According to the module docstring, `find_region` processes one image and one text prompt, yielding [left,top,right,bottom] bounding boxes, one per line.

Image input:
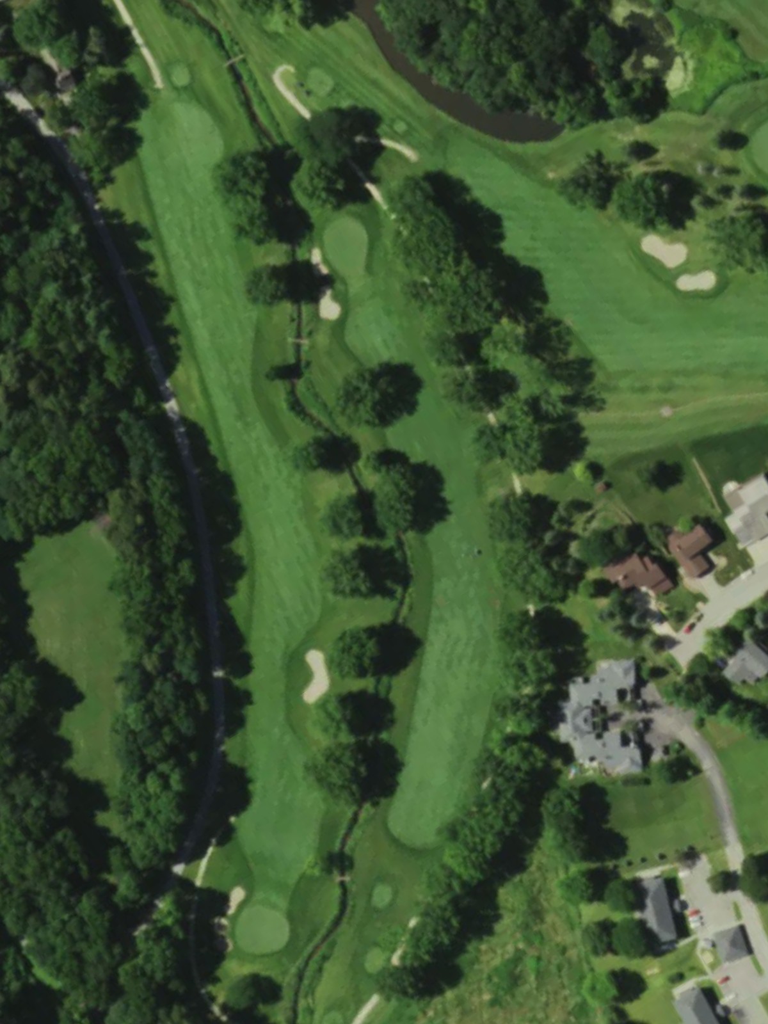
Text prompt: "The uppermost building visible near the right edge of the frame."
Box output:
[724,474,768,546]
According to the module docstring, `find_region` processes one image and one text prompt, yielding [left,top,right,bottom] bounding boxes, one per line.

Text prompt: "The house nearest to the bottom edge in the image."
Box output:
[676,988,721,1024]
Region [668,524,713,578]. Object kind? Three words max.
house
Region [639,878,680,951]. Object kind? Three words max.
house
